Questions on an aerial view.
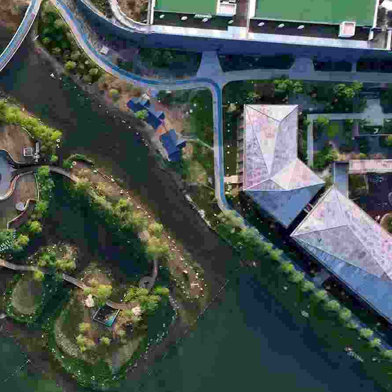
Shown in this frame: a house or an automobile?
house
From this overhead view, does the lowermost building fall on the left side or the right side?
left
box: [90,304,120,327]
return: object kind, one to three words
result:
building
